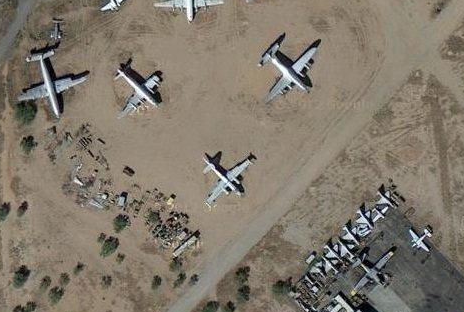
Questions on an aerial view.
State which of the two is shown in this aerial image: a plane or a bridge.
plane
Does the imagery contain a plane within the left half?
Yes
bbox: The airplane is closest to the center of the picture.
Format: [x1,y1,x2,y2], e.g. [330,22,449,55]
[202,157,252,207]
